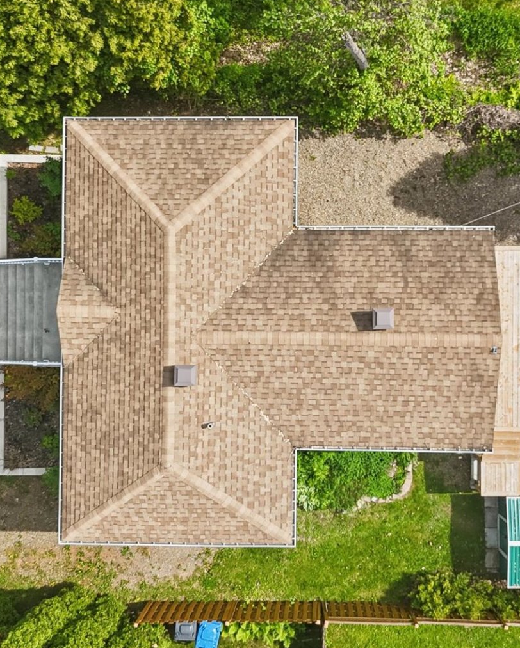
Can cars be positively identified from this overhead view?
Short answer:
No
